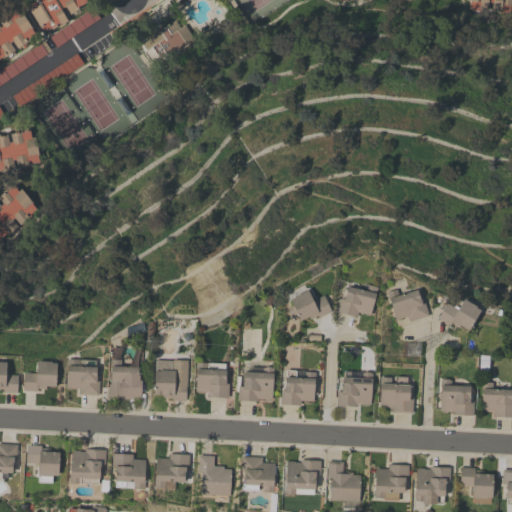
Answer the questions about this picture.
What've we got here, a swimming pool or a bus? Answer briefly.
swimming pool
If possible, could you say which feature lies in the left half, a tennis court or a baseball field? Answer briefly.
tennis court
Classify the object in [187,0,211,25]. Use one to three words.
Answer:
swimming pool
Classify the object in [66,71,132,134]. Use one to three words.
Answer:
tennis court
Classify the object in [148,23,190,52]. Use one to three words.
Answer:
building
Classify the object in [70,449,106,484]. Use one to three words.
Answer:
house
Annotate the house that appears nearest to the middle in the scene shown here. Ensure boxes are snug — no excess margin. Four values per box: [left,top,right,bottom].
[292,294,334,320]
